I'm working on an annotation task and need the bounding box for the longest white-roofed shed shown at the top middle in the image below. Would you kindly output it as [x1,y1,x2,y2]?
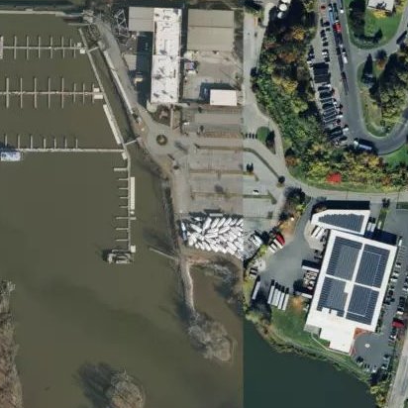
[150,7,181,102]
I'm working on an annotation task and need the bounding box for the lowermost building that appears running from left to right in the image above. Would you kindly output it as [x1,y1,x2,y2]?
[312,209,371,235]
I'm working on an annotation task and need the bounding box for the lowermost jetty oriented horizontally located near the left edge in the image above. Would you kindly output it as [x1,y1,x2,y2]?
[0,135,124,151]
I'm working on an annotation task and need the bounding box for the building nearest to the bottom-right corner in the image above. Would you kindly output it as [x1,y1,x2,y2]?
[305,230,398,355]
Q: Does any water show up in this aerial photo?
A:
Yes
